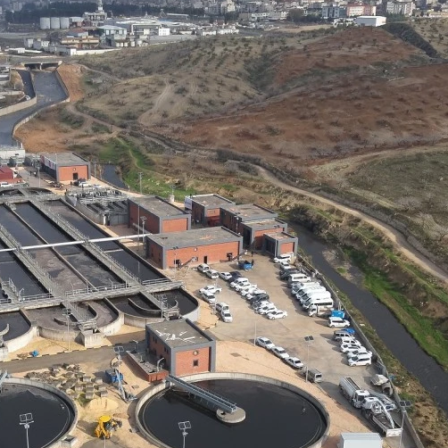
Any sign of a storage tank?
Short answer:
Yes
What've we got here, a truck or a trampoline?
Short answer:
truck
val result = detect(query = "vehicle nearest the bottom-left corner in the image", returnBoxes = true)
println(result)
[94,415,127,441]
